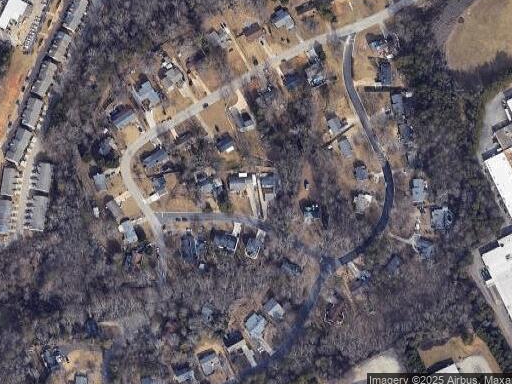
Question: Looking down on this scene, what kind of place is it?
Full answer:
What you see here is a residential area.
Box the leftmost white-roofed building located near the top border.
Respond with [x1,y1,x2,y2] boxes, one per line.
[0,0,28,31]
